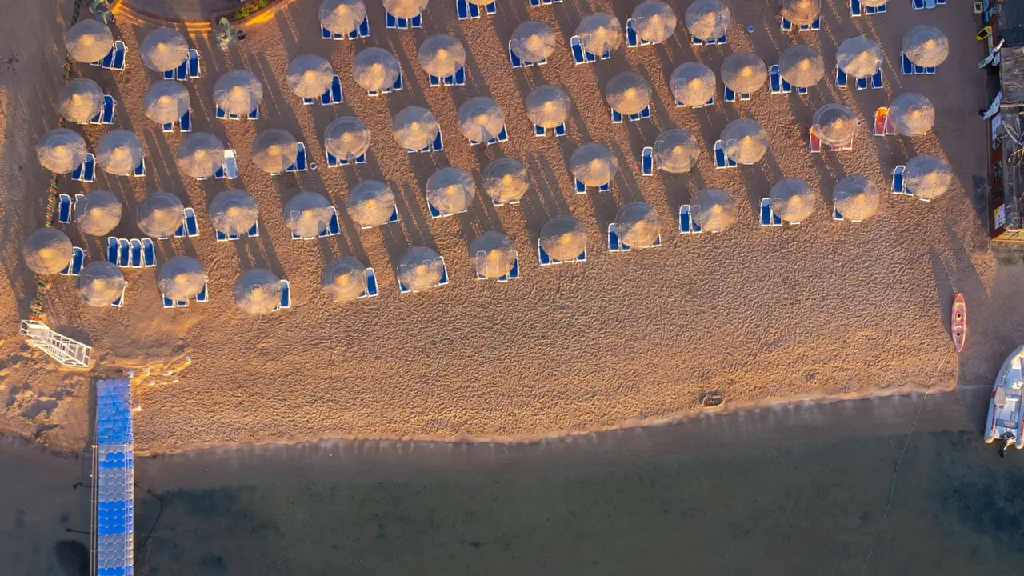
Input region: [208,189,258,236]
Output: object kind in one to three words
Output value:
umbrella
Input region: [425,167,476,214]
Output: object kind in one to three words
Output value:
umbrella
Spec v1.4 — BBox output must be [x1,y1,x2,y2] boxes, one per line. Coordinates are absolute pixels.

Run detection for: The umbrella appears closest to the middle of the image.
[468,231,517,277]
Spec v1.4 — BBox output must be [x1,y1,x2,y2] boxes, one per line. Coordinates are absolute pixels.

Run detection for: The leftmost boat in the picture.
[952,292,966,352]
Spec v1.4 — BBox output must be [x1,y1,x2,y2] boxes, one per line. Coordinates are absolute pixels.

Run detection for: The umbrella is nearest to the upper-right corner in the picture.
[901,25,949,68]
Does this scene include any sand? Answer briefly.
Yes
